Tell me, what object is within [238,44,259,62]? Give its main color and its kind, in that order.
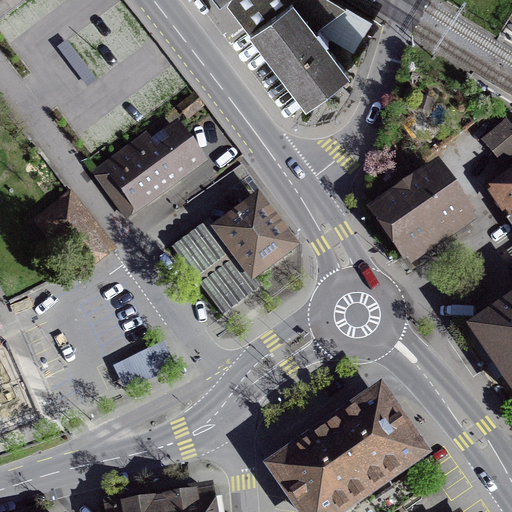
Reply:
white car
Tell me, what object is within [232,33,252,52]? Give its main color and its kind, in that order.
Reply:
white car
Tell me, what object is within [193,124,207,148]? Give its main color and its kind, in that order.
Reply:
white vehicle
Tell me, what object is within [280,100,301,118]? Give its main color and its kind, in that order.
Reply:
white vehicle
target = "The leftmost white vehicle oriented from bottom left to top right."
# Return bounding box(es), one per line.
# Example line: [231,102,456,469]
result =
[35,294,58,315]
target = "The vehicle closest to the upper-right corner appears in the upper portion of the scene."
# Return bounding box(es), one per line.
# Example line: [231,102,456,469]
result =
[472,122,492,140]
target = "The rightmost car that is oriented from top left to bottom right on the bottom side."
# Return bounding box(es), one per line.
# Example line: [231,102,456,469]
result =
[476,470,496,492]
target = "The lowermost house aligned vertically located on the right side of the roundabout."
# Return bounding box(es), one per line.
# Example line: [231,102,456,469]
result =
[466,289,512,393]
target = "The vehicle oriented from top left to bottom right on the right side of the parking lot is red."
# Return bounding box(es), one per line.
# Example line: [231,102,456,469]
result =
[358,263,380,288]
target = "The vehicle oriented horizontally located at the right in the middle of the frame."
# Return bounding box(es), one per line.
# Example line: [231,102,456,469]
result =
[440,304,474,316]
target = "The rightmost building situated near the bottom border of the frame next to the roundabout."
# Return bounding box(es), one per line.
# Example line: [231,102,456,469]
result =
[264,379,432,512]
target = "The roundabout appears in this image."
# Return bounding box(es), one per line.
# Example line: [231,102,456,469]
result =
[308,266,407,364]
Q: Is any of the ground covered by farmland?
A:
No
